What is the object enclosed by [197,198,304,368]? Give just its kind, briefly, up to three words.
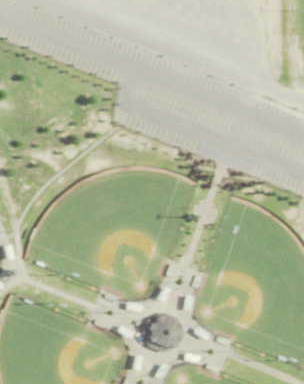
baseball field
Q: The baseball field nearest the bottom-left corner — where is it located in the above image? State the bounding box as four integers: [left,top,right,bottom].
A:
[0,296,127,384]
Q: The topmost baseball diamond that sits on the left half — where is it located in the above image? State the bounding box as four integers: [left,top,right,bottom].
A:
[24,167,196,301]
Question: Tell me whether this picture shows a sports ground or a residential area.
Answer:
sports ground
